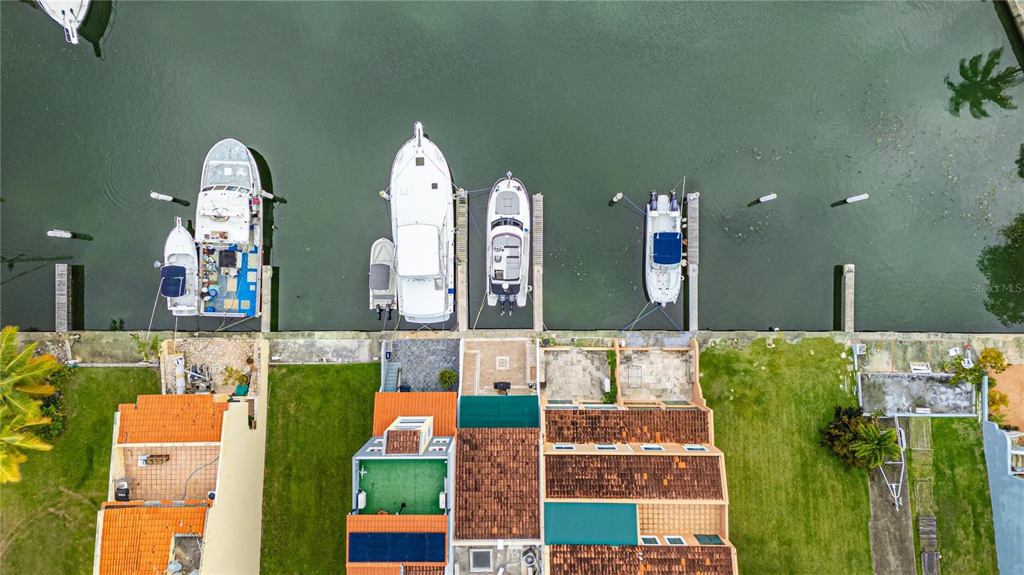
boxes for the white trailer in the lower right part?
[875,416,906,513]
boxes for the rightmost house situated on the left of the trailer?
[540,349,738,575]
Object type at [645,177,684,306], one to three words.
boat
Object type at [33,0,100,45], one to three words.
boat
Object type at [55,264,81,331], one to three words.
pier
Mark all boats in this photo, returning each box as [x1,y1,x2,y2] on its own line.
[368,238,396,322]
[390,121,455,331]
[645,177,684,306]
[486,171,530,317]
[153,216,199,315]
[33,0,100,45]
[194,138,267,316]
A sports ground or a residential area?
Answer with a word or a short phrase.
residential area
